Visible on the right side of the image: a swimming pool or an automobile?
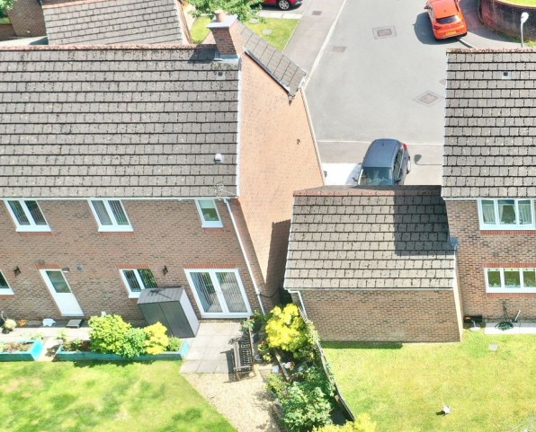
automobile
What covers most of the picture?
buildings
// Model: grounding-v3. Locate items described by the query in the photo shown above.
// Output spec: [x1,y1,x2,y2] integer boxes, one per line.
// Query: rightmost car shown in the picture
[428,0,470,34]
